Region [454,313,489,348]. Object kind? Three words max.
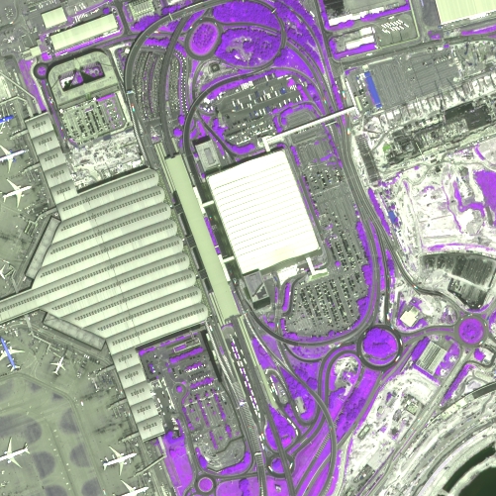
roundabout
